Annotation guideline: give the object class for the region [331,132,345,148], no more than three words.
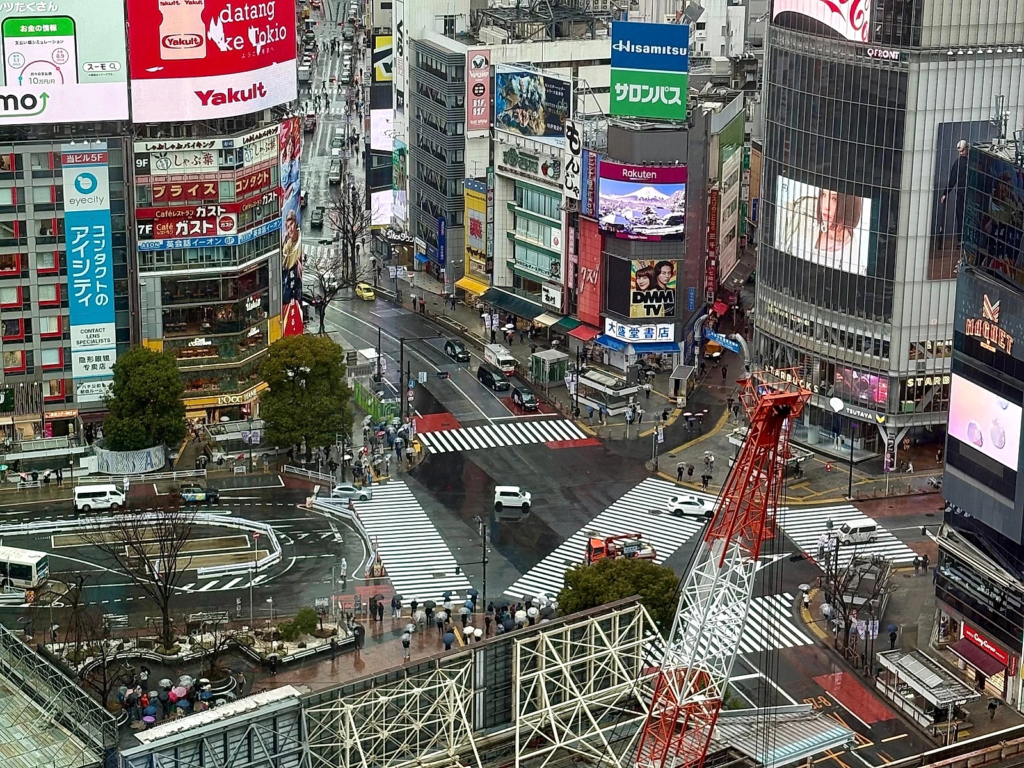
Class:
car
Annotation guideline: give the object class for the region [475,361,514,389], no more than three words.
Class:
van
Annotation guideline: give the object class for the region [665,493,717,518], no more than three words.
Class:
car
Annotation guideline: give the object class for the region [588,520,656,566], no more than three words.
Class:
truck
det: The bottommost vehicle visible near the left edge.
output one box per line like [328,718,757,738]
[0,541,51,589]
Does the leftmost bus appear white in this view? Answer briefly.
Yes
